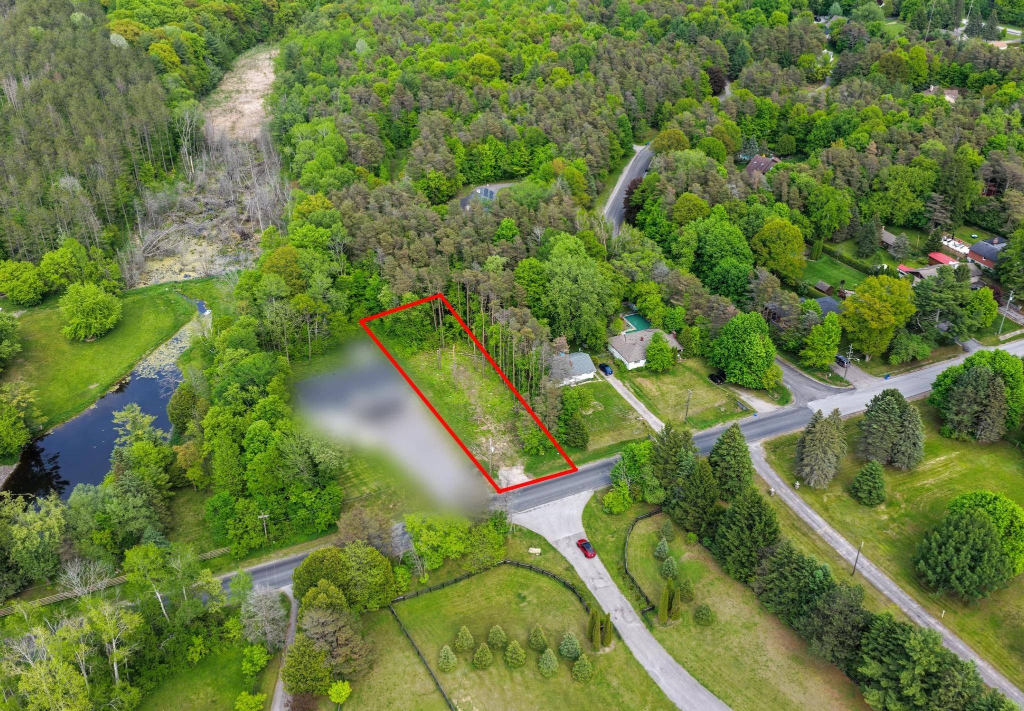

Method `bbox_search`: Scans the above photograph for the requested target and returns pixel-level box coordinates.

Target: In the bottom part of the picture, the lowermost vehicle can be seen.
[574,537,600,561]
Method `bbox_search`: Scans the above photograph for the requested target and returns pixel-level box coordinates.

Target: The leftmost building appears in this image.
[291,354,410,419]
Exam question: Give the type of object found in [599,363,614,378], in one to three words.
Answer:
car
